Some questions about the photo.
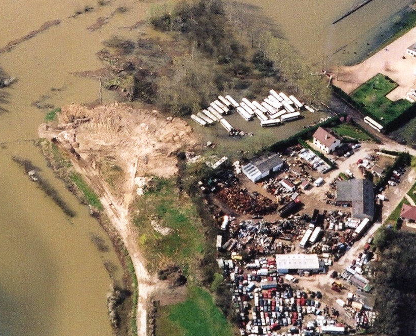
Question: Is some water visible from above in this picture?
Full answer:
Yes, water can be seen from above here.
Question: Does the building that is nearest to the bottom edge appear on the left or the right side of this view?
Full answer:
The building that is nearest to the bottom edge appears in the right half of the scene.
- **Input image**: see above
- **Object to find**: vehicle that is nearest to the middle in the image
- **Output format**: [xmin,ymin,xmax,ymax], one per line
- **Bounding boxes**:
[211,158,228,171]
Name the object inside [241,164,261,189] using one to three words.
building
